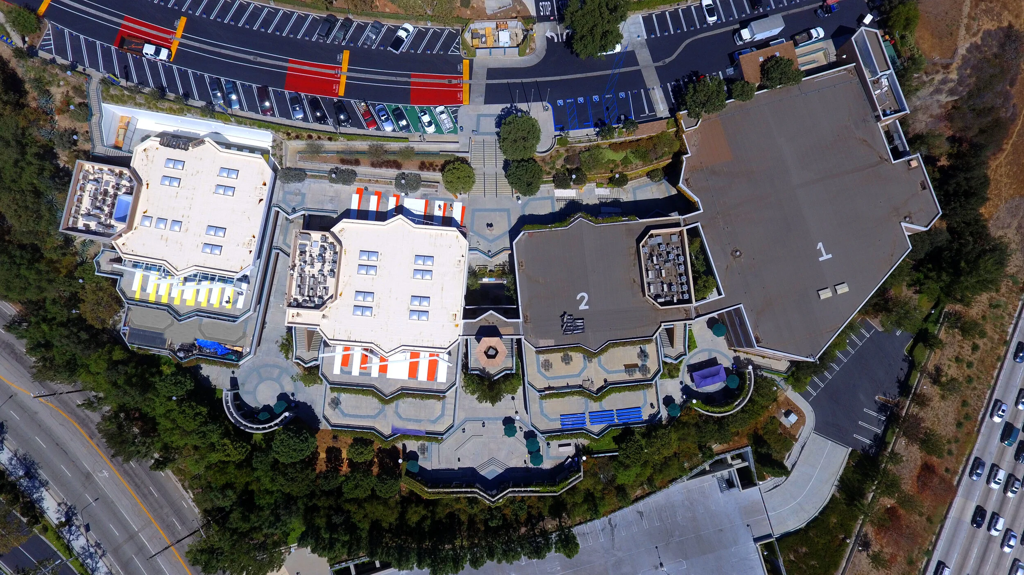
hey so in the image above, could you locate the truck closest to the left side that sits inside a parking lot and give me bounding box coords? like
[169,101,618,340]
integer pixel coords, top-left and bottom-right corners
[115,32,171,61]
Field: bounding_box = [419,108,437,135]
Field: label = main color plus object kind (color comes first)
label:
white car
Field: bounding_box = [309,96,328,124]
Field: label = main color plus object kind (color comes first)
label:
black car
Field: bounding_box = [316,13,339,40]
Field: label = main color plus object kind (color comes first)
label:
black car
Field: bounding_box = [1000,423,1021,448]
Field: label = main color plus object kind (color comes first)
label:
blue car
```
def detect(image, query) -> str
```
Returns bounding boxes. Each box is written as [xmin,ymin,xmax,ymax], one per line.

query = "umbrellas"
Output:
[723,372,743,392]
[402,457,422,477]
[709,320,727,340]
[665,400,683,419]
[257,407,273,424]
[523,436,542,455]
[526,451,546,469]
[270,397,289,416]
[501,421,520,440]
